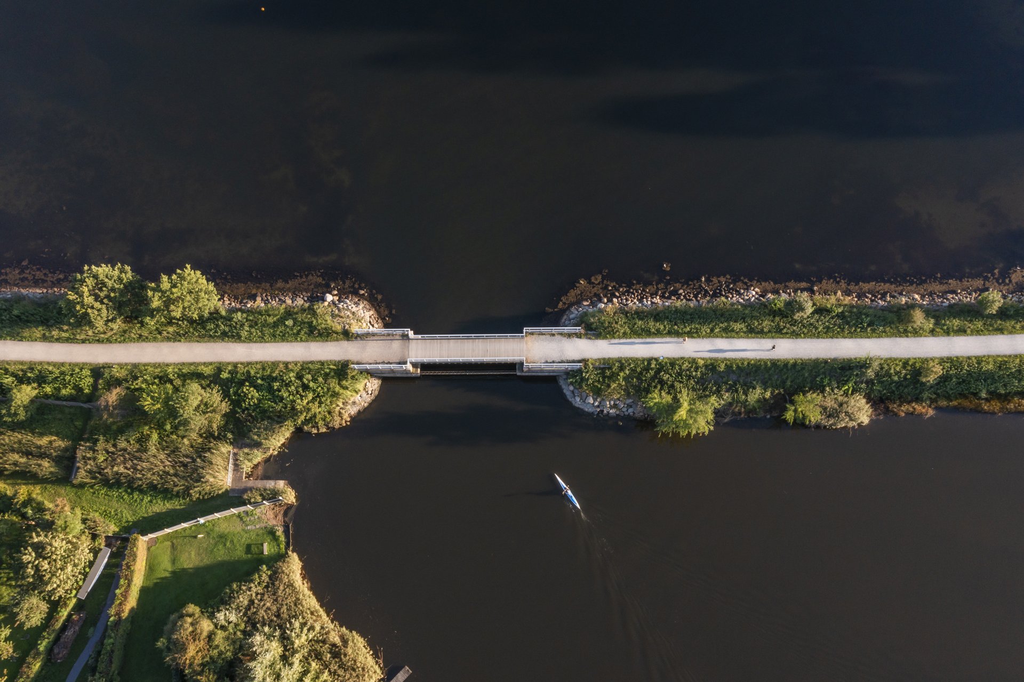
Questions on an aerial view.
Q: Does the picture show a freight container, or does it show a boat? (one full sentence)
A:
Looking from above, you can make out a boat.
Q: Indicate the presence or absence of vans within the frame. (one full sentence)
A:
No, the photo shows no van.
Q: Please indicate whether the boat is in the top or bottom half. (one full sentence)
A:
You can find the boat in the bottom half.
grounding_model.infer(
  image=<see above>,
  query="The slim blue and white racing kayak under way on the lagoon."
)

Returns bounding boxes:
[555,474,580,509]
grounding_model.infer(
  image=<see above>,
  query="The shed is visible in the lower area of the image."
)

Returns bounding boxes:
[76,546,114,600]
